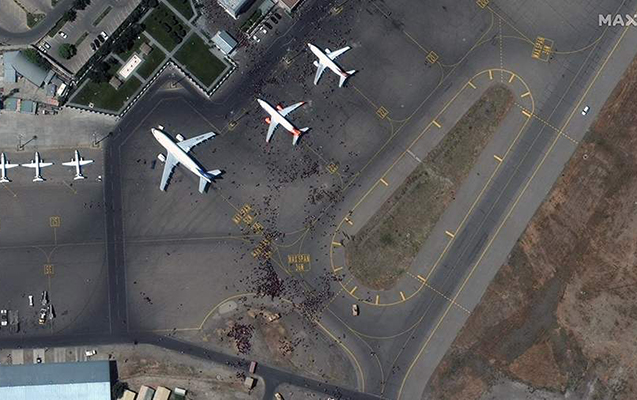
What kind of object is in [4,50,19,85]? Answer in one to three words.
shed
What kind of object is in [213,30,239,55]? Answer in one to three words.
building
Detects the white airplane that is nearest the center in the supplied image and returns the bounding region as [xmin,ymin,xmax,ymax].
[258,100,309,143]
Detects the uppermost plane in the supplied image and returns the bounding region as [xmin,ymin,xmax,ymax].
[307,44,358,86]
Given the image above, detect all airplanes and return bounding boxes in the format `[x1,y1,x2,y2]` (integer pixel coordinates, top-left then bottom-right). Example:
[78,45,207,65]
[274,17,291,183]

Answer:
[0,154,19,182]
[21,152,52,180]
[307,44,358,86]
[62,151,93,179]
[258,100,309,143]
[151,128,222,192]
